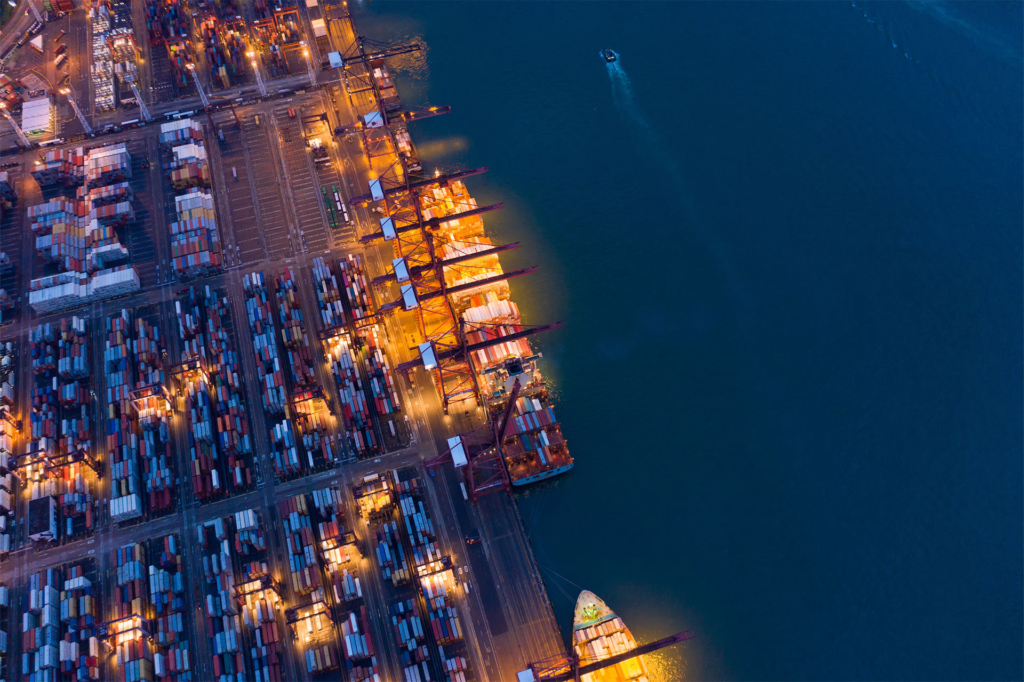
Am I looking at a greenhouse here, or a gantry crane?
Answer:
gantry crane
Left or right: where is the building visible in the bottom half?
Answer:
left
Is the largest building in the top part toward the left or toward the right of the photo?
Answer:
left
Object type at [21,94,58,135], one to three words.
building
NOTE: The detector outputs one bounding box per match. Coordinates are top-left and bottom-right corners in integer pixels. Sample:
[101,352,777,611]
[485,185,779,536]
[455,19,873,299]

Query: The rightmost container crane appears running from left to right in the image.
[515,629,695,682]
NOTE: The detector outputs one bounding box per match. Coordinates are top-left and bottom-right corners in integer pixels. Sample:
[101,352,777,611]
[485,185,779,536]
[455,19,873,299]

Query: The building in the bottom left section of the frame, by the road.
[28,494,60,544]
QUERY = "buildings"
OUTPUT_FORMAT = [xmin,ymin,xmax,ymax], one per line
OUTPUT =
[28,494,60,544]
[21,94,58,135]
[119,88,137,105]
